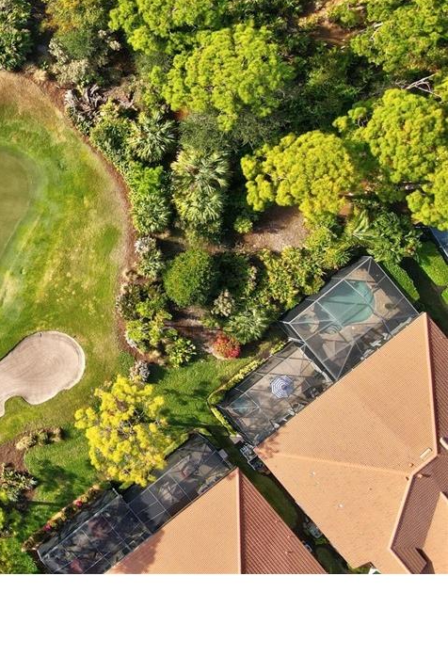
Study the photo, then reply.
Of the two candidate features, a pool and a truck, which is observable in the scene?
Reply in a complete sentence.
The one in the frame is a pool.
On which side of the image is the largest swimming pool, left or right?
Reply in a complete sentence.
You can find the largest swimming pool on the right side of the picture.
